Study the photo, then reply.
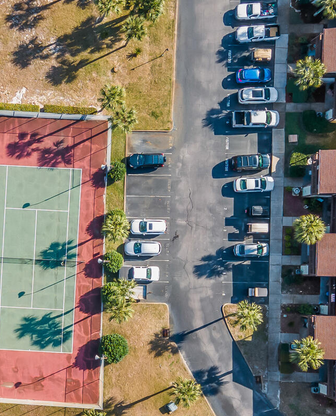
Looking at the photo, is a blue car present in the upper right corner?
Yes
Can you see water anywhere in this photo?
No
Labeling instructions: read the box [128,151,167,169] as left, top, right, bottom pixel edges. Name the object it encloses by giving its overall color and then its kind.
blue car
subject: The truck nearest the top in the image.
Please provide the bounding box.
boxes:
[234,0,280,22]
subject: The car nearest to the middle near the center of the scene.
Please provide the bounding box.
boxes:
[130,217,168,236]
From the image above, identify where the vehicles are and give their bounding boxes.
[234,23,282,44]
[240,205,263,216]
[233,241,269,258]
[243,287,268,297]
[241,223,267,234]
[233,175,274,193]
[128,151,167,169]
[232,153,269,171]
[236,66,270,84]
[246,48,270,63]
[230,108,280,128]
[118,264,160,284]
[238,85,278,105]
[234,0,280,22]
[124,239,162,257]
[130,217,168,236]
